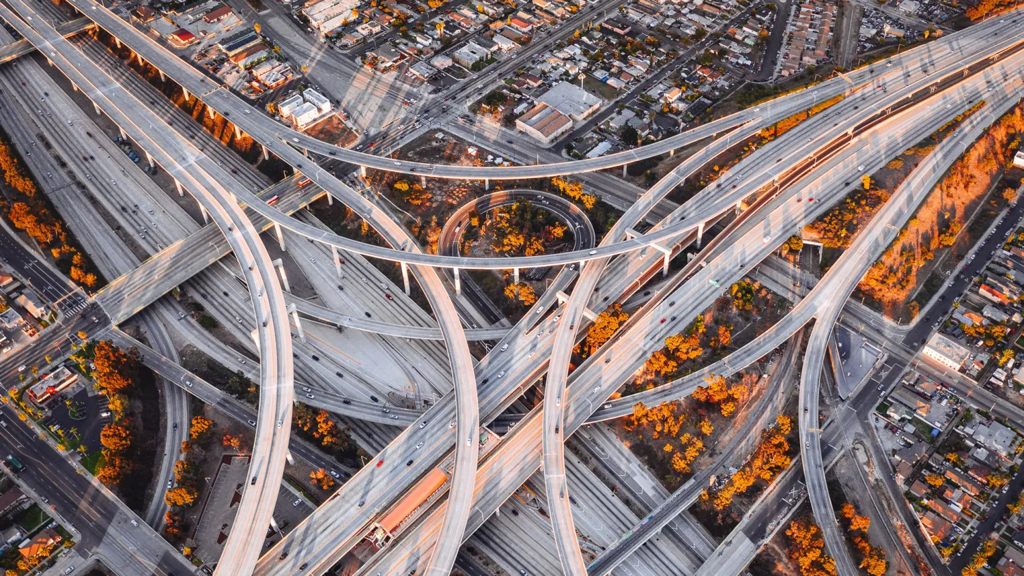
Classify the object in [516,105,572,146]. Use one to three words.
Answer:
building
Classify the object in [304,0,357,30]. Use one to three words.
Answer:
building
